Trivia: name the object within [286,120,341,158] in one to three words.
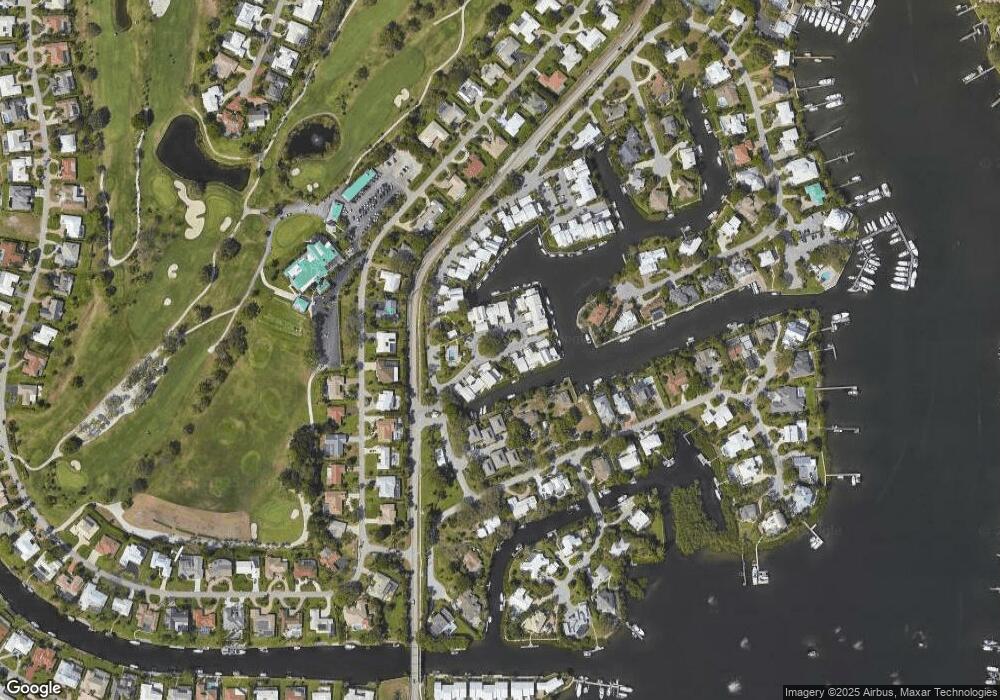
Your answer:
pond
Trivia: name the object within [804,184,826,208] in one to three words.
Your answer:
house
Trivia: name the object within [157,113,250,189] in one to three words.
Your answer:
pond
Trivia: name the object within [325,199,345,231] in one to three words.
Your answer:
building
